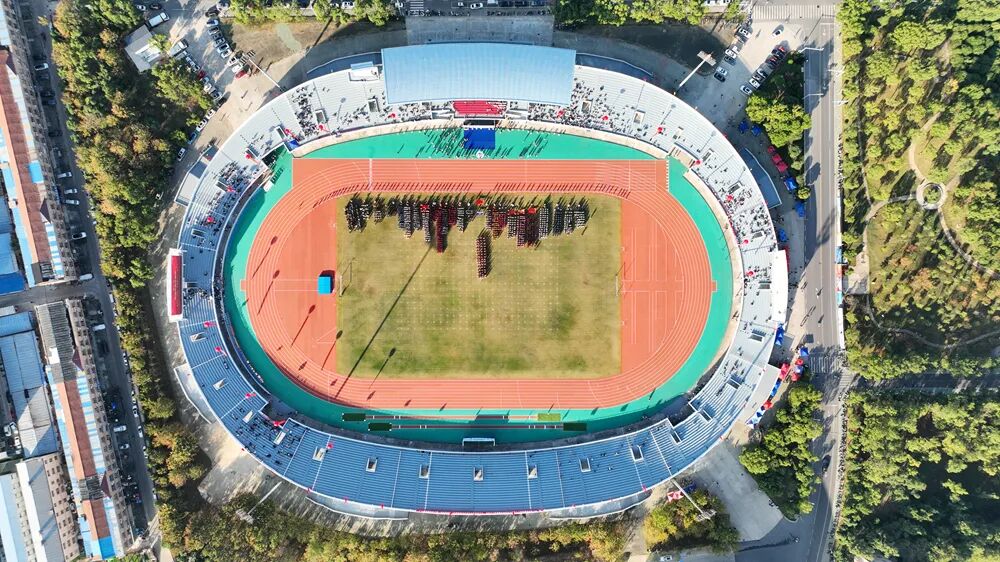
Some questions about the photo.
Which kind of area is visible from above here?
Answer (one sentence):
What you see here is a sports ground.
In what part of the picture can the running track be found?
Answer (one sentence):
The running track is located in the center region of the scene.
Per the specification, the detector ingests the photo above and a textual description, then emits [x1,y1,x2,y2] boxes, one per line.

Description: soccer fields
[338,192,621,378]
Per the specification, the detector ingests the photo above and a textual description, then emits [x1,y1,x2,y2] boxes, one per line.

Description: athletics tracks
[224,130,732,442]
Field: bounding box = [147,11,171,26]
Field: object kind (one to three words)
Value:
vehicle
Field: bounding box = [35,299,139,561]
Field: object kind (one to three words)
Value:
building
